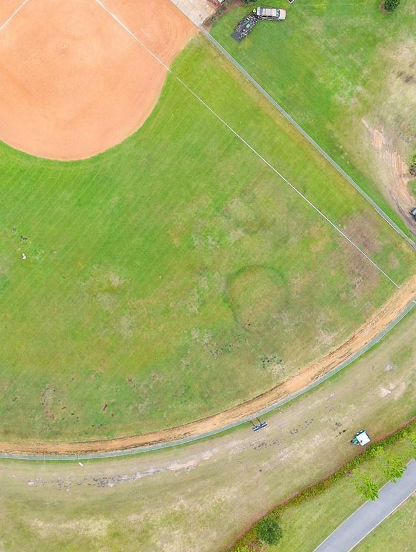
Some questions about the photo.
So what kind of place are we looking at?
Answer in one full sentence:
It's a sports ground.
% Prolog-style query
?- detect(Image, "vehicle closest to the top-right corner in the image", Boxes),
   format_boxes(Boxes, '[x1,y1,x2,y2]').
[257,6,287,21]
